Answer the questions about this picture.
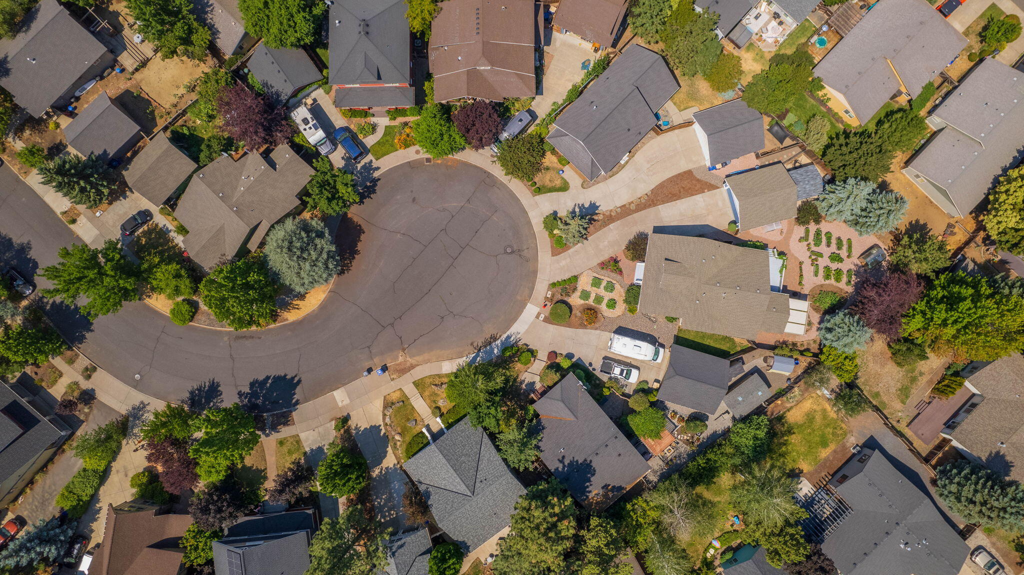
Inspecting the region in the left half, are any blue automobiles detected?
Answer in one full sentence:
Yes, a blue automobile can be seen in the left half.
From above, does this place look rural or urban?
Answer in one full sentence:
From above, the setting appears urban.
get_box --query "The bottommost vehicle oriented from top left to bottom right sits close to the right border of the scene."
[969,545,1005,575]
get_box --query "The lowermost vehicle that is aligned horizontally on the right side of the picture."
[597,358,642,383]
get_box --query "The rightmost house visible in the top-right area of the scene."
[901,58,1024,219]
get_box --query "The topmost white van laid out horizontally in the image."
[605,330,662,359]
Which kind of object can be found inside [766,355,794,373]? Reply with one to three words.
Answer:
shed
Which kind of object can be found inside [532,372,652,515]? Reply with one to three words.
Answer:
house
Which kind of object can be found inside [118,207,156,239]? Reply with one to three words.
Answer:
car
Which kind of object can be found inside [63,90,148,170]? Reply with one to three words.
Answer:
building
